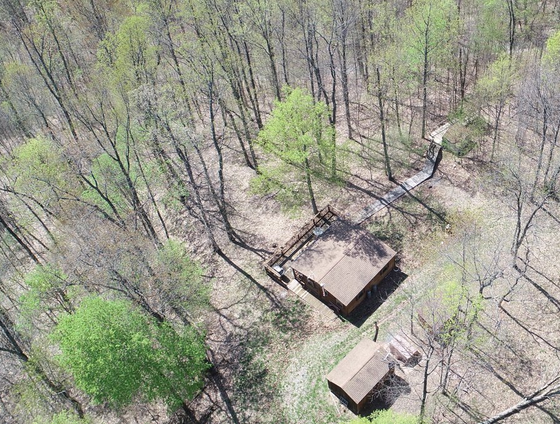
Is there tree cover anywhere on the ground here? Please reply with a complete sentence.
Yes, tree cover shows up in the scene.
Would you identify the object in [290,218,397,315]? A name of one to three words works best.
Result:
building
